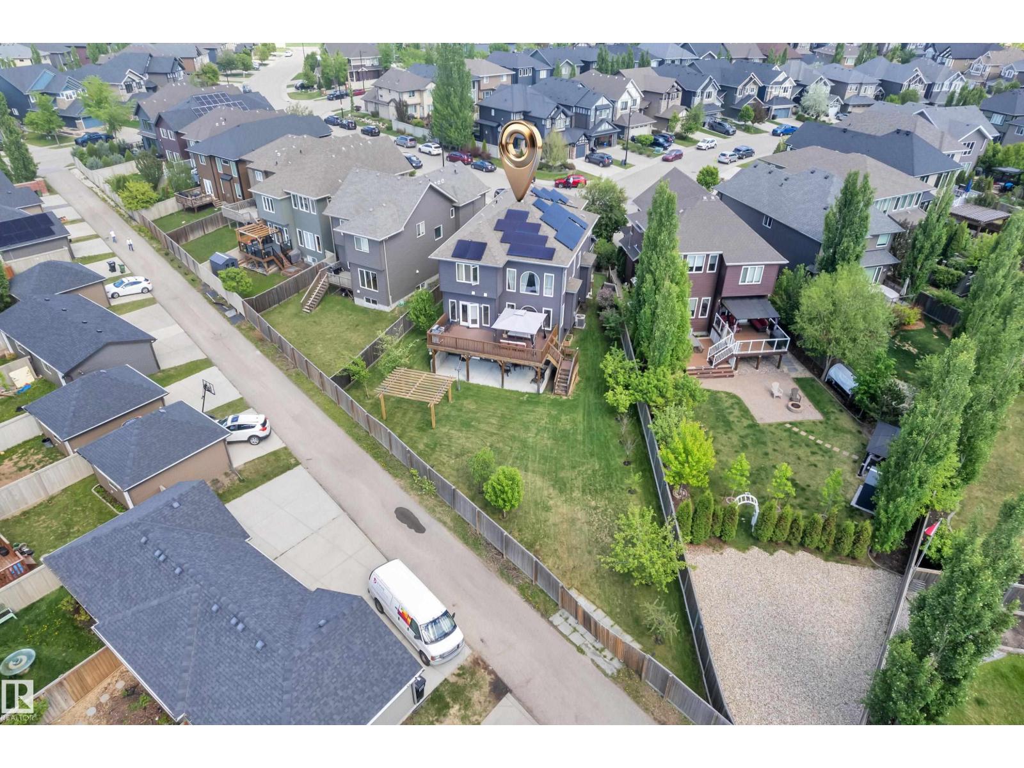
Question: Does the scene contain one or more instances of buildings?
Yes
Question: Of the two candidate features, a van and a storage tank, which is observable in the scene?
van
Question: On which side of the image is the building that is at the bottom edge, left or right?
left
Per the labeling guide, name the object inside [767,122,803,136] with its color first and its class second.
blue vehicle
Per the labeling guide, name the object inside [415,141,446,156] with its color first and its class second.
white car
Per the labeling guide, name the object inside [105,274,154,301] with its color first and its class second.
white car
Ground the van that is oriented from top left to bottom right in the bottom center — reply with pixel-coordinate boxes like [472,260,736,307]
[369,560,472,676]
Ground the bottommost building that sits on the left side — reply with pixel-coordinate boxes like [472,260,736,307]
[41,480,423,768]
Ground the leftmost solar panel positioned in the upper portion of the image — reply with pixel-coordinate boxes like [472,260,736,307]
[0,213,55,248]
